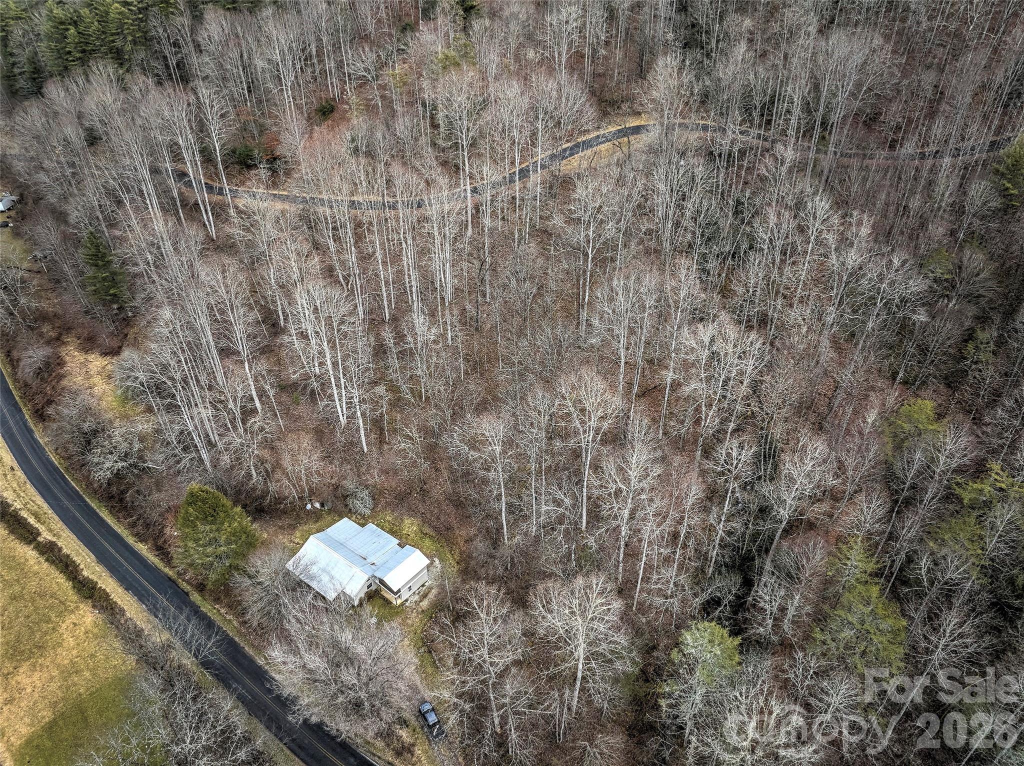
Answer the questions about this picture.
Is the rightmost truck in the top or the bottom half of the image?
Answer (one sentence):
The rightmost truck is in the bottom half of the image.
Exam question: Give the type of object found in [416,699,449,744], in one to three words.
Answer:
truck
